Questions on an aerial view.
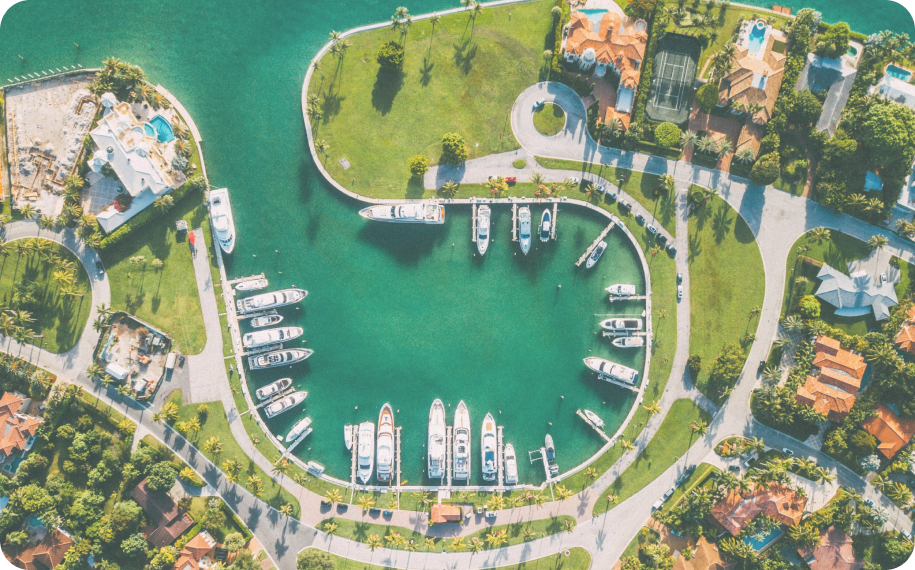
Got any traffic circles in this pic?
Yes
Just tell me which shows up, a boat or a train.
boat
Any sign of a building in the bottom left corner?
Yes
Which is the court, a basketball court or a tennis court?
tennis court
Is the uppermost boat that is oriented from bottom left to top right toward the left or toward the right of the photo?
right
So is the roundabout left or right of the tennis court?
left of it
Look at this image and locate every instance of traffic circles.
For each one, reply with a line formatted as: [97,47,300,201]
[512,83,587,139]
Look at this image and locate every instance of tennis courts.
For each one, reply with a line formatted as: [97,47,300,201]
[646,29,708,122]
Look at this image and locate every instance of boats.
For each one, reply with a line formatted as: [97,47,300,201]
[545,434,556,462]
[286,415,313,440]
[587,241,608,267]
[378,403,394,481]
[600,318,642,330]
[344,423,353,449]
[539,209,550,242]
[550,464,559,473]
[245,327,303,347]
[453,401,471,479]
[477,205,491,255]
[518,207,531,255]
[359,204,446,222]
[583,358,638,383]
[428,399,446,477]
[585,410,605,427]
[236,278,269,290]
[249,348,313,371]
[209,189,235,253]
[257,378,291,398]
[306,461,324,474]
[237,289,307,313]
[252,314,283,327]
[605,284,635,295]
[504,443,517,483]
[358,421,374,483]
[265,391,306,418]
[613,337,643,348]
[482,413,497,480]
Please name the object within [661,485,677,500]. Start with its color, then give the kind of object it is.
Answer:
white vehicle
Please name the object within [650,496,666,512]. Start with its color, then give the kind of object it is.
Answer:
white vehicle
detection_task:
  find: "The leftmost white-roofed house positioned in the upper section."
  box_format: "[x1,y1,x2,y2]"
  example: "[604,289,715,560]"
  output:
[87,100,179,231]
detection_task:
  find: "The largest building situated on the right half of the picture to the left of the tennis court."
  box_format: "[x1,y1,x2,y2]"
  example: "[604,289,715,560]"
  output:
[563,10,650,127]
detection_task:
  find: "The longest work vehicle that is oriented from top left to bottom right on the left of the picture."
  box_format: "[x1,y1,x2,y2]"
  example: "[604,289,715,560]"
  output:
[130,348,151,365]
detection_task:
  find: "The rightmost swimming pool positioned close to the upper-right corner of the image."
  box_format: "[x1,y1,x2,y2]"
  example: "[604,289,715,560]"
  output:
[885,63,914,80]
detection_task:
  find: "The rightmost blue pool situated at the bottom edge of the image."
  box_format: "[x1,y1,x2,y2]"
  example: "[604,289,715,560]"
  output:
[743,524,785,550]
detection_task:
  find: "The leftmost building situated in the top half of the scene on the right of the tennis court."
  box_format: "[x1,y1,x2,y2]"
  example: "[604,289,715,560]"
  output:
[703,31,786,162]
